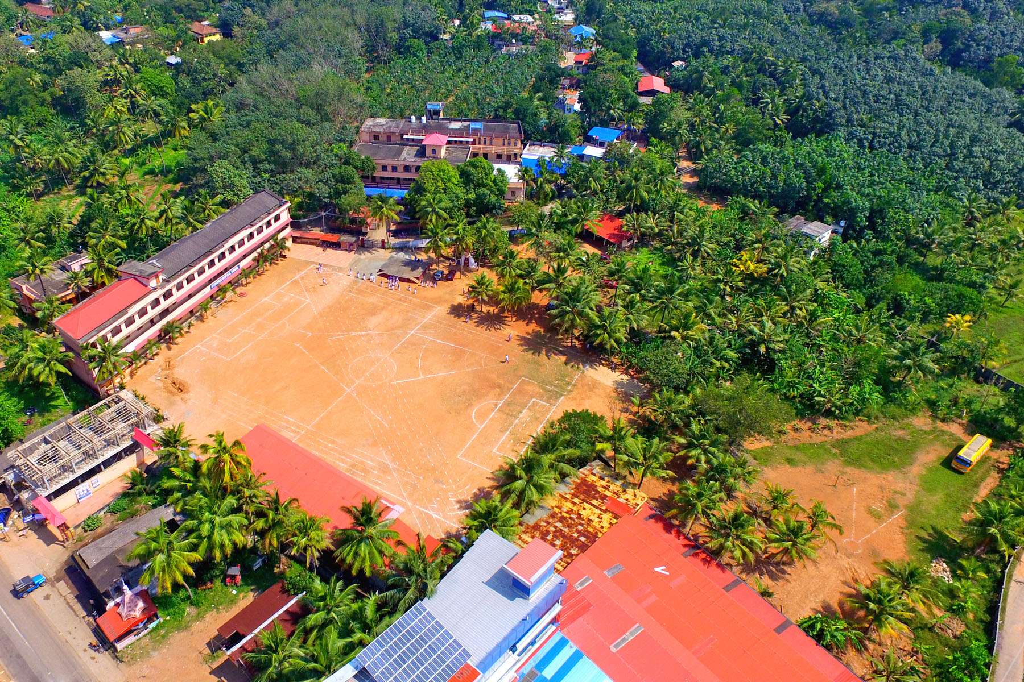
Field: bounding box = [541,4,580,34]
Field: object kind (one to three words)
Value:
house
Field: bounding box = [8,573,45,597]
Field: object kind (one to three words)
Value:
car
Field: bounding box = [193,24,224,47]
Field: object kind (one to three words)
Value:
house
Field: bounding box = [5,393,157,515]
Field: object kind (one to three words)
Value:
building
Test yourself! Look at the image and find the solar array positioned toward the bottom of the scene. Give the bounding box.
[343,597,473,682]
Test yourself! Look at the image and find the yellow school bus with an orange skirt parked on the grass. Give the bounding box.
[956,427,998,470]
